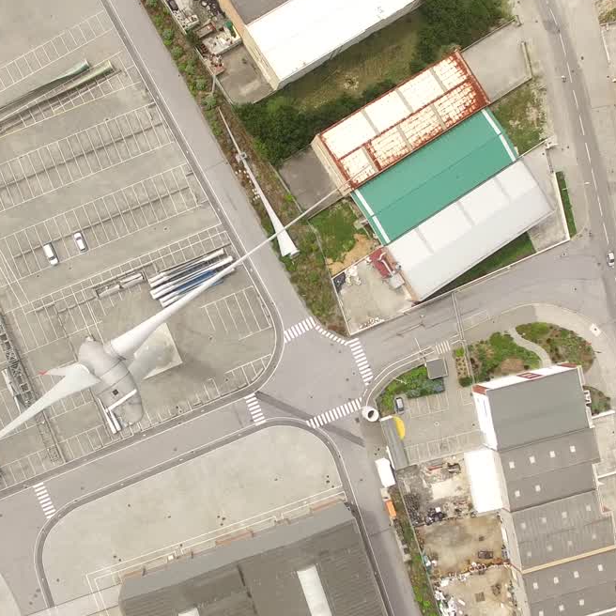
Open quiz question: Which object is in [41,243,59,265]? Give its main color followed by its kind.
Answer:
white car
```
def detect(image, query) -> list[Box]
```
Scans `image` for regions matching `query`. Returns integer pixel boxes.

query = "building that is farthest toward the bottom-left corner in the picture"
[120,505,385,616]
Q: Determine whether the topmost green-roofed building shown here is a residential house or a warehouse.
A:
warehouse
